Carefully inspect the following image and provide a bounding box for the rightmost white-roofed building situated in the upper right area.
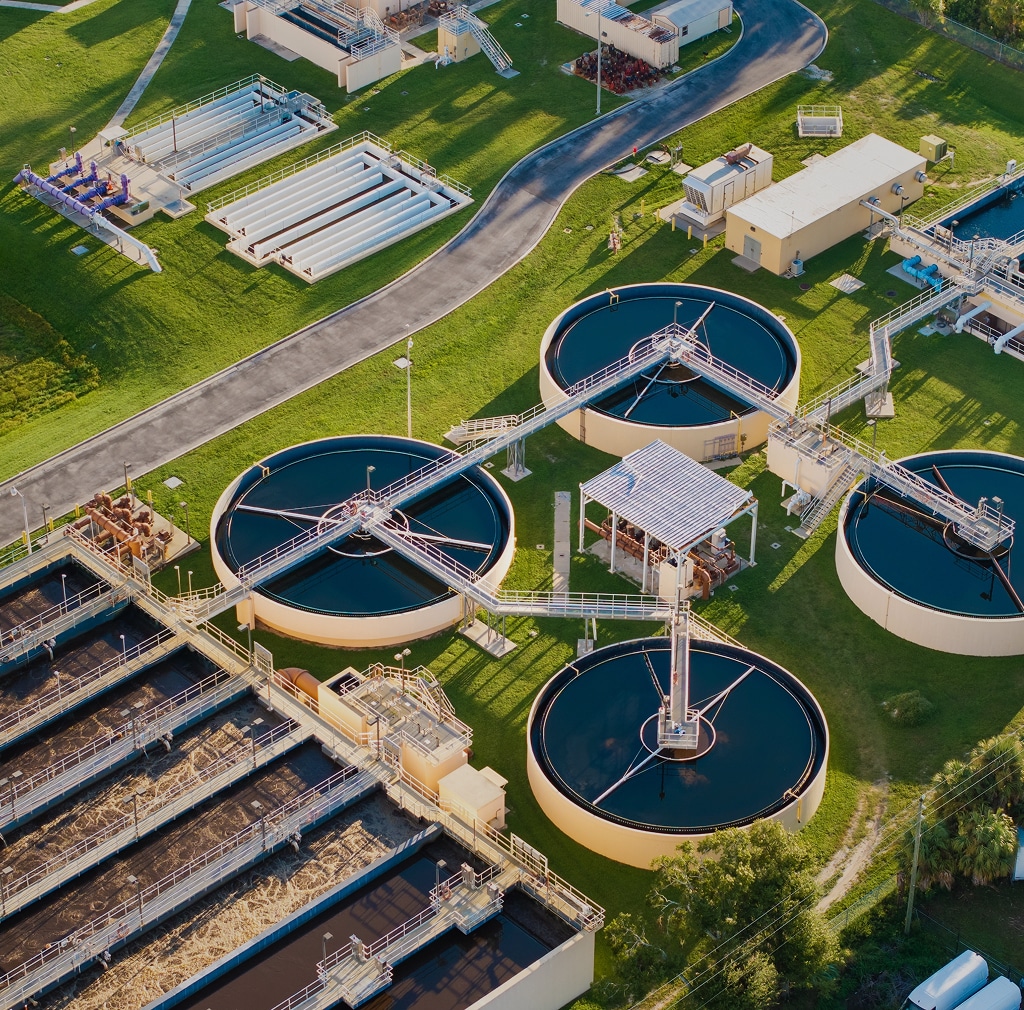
[725,134,928,276]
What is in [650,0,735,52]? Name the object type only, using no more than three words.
shed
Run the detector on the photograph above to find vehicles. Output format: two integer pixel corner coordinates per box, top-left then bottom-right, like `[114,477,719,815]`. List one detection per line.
[903,953,990,1010]
[959,979,1021,1010]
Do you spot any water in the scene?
Yes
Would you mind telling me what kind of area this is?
industrial area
